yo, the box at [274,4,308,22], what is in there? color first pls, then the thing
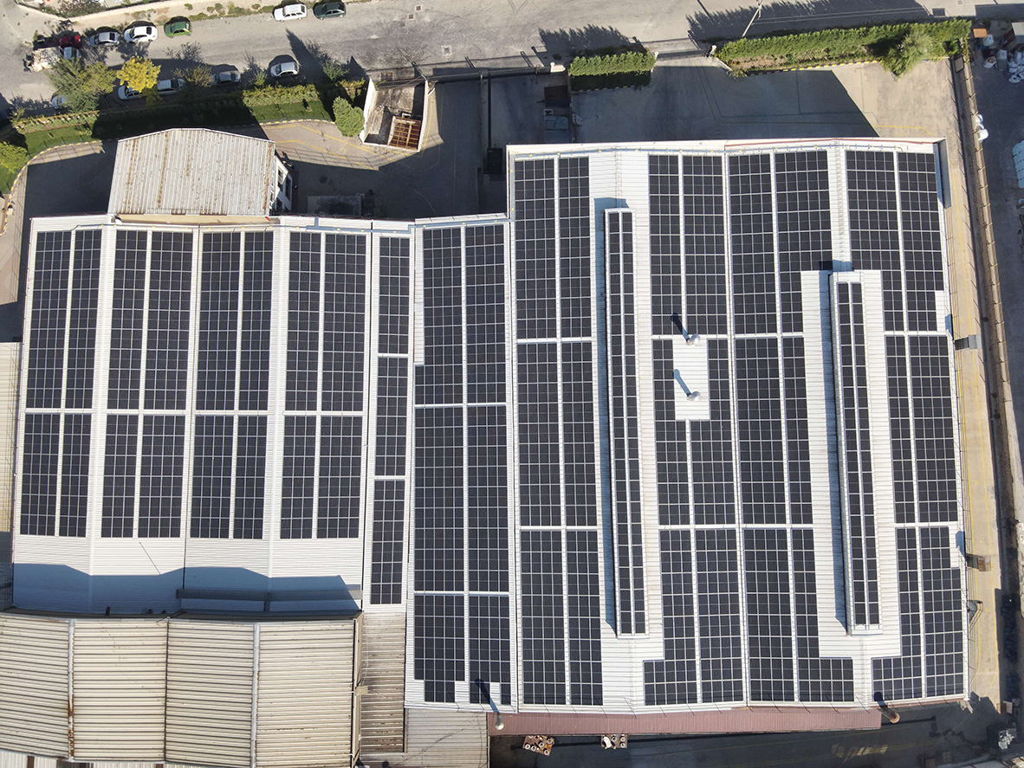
white car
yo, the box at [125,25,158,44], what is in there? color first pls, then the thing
white car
